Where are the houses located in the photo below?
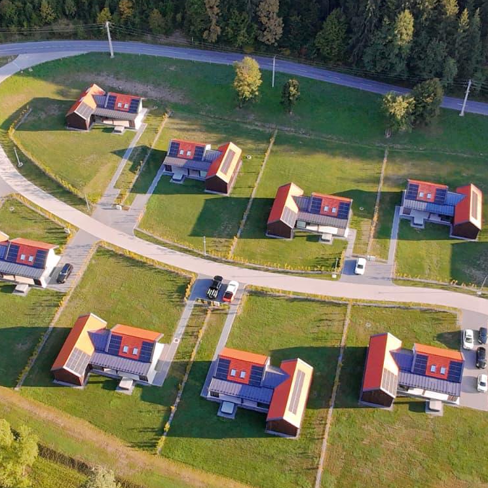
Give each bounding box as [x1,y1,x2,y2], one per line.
[265,183,355,243]
[0,232,65,297]
[65,86,149,133]
[358,332,465,416]
[50,313,171,393]
[396,181,483,242]
[203,349,314,441]
[161,141,242,194]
